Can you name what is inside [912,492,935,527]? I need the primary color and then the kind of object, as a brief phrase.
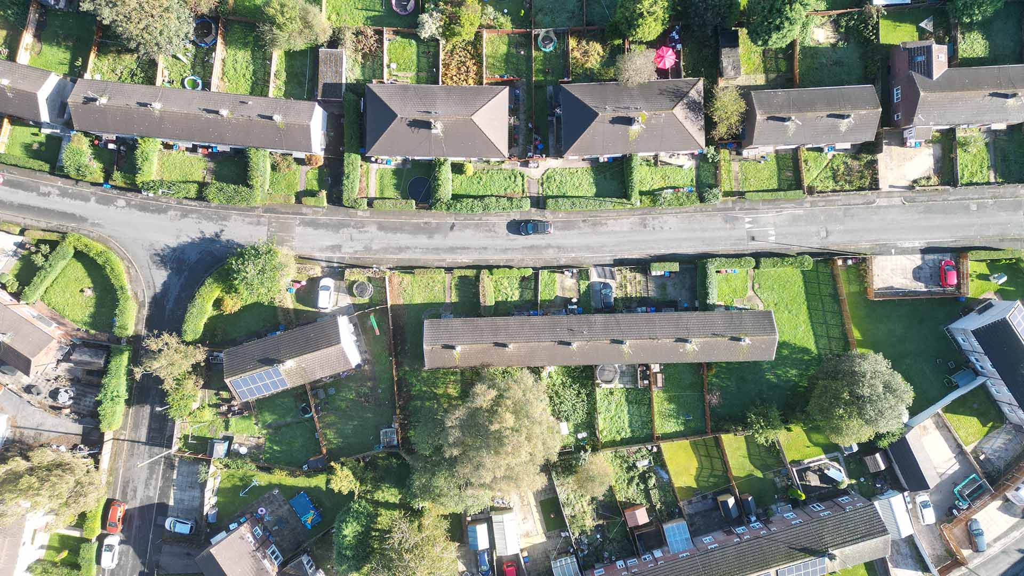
white car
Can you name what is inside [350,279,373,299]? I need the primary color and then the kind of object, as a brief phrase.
gray trampoline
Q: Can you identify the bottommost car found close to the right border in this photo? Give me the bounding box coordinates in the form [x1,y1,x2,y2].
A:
[964,517,986,553]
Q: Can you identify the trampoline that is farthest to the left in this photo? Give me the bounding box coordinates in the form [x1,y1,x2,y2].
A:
[191,19,216,46]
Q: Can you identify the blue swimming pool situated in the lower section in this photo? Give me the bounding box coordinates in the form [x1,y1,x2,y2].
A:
[289,487,326,530]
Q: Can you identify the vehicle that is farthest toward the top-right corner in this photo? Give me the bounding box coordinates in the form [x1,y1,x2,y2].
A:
[938,259,957,289]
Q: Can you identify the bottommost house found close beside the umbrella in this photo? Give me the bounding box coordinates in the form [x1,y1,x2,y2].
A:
[559,77,706,163]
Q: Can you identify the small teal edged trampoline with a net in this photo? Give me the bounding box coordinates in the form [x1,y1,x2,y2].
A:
[537,29,555,53]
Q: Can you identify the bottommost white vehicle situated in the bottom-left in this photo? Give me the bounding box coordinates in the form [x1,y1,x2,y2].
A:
[102,533,124,570]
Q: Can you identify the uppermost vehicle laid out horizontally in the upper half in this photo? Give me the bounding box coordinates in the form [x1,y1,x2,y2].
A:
[519,219,553,236]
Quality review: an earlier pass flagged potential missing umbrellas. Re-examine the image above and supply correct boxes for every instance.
[652,47,676,71]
